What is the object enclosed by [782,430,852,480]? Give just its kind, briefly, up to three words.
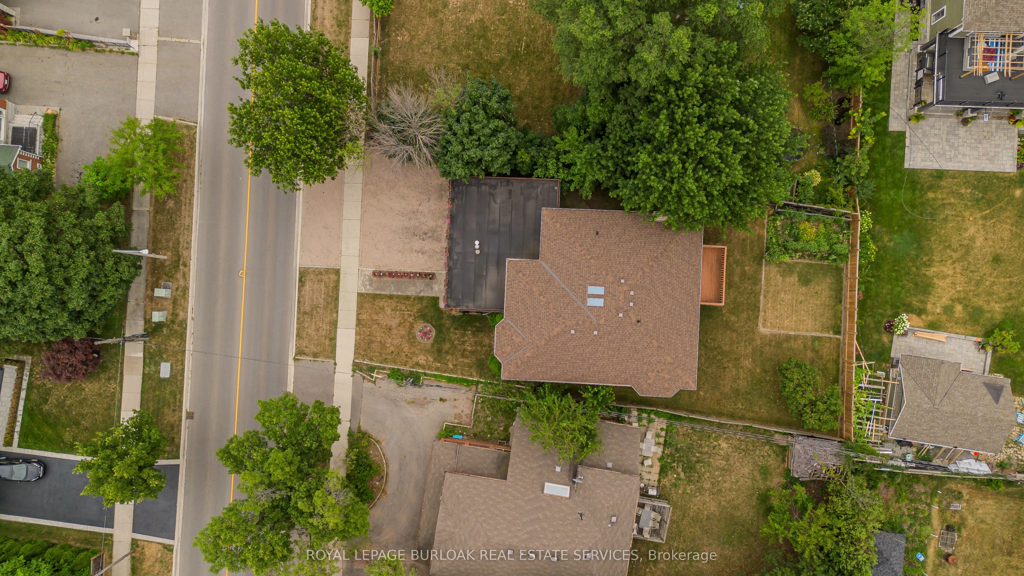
shed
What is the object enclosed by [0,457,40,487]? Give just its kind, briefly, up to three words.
car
